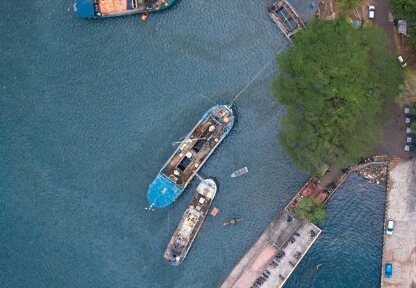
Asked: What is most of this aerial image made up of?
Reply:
water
